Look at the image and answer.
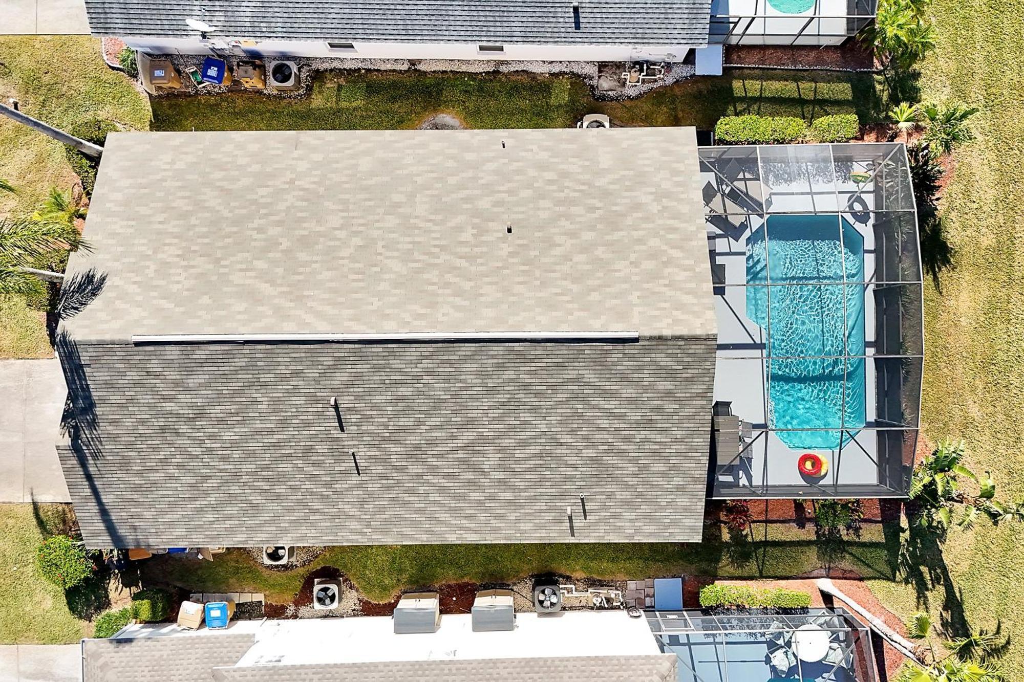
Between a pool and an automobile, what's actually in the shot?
pool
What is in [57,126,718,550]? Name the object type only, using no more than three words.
house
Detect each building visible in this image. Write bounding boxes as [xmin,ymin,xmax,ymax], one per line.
[84,0,714,62]
[70,612,679,682]
[57,126,718,550]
